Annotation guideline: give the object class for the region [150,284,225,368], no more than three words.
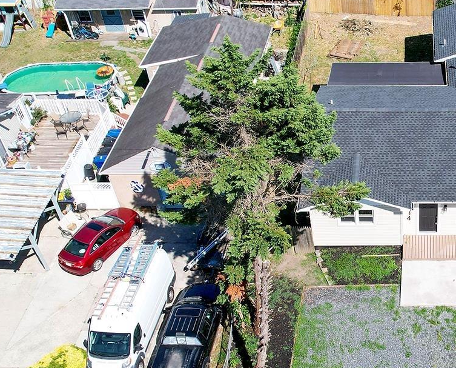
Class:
truck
